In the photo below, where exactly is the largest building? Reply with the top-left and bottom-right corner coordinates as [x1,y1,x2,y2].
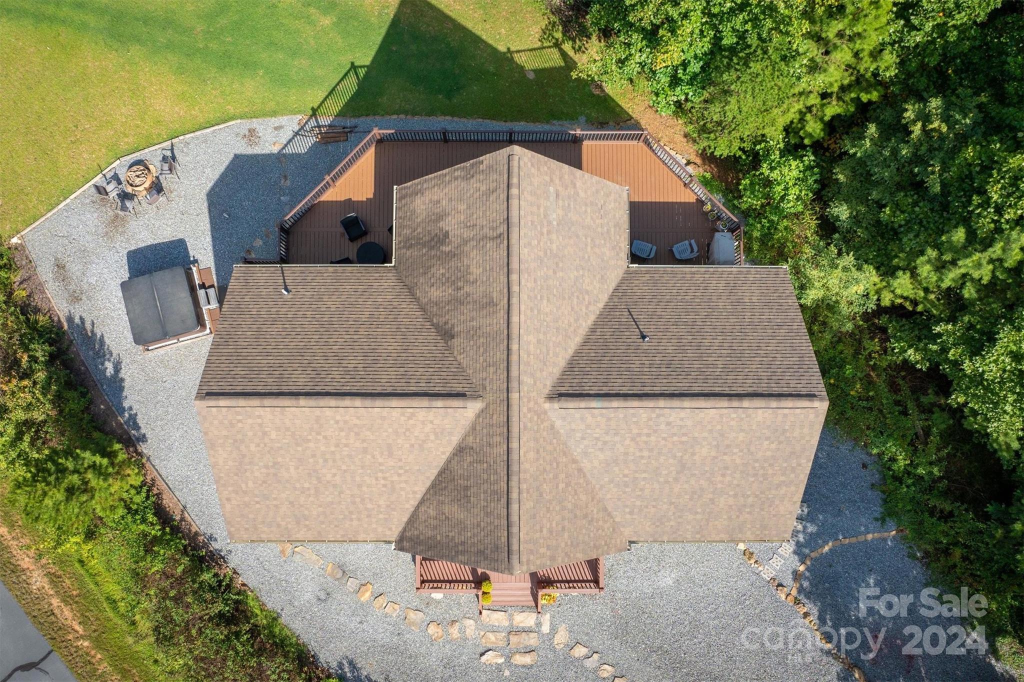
[194,145,830,577]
